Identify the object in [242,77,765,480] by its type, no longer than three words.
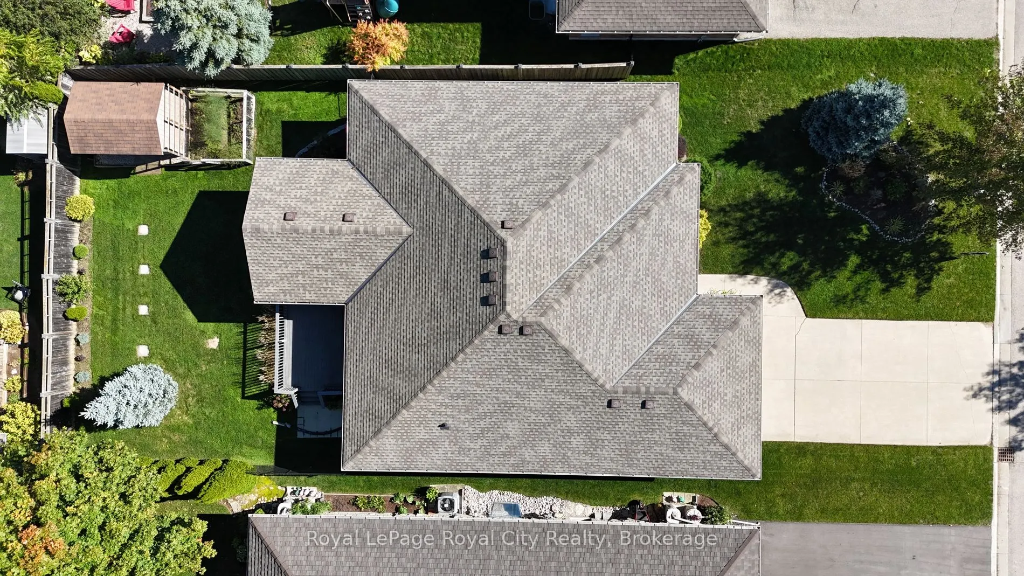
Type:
house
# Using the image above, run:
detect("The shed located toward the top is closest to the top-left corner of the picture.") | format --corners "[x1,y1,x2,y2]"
[7,105,58,161]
